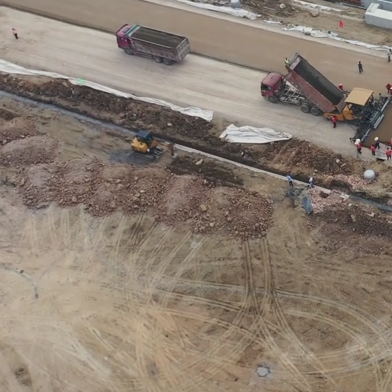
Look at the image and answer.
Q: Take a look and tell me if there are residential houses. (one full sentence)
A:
No, I can see no residential house in this picture.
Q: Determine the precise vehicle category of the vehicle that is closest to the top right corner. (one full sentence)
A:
It looks like the vehicle that is closest to the top right corner is a truck.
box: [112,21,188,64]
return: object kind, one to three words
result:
truck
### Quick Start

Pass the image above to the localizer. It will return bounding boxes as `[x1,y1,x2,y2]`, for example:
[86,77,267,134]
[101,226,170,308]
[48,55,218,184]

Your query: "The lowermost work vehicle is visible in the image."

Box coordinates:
[129,129,172,160]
